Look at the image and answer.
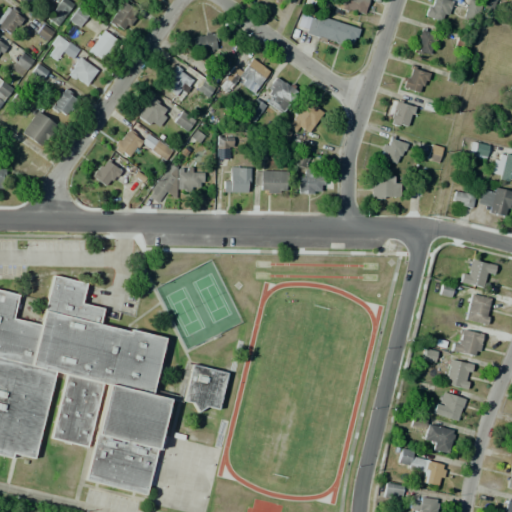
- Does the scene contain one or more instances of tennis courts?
Yes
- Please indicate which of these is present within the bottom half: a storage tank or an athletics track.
athletics track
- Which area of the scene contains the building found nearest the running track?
bottom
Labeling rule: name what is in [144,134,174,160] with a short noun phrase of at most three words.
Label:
house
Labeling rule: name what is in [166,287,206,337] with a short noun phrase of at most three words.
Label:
tennis court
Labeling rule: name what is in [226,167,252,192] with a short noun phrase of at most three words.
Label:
house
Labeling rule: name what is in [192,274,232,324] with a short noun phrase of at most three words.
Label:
tennis court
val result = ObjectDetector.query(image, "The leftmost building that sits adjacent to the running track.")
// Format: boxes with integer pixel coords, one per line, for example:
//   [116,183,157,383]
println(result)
[0,276,174,495]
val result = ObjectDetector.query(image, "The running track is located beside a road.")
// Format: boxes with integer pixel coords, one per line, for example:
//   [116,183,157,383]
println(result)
[218,280,384,504]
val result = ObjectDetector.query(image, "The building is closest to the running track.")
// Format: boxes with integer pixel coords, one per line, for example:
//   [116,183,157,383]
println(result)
[184,365,230,412]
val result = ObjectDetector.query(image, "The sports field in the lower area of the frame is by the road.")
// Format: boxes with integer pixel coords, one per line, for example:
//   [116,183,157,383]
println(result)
[230,287,370,494]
